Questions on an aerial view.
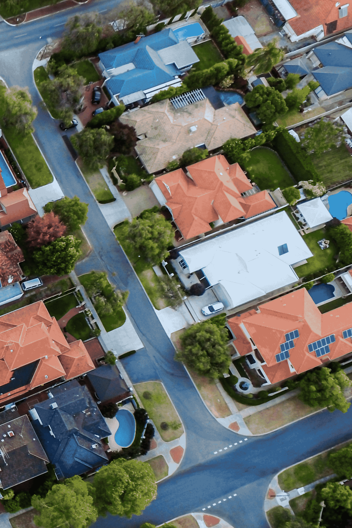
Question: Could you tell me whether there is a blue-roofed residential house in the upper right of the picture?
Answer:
Yes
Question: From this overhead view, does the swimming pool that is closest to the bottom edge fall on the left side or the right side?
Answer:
left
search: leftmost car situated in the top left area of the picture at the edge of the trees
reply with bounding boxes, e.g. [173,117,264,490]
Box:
[57,118,79,132]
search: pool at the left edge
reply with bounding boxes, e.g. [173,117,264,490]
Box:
[0,146,18,187]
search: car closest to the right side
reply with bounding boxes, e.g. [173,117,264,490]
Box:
[201,302,224,317]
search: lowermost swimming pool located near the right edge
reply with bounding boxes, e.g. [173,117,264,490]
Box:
[306,282,338,306]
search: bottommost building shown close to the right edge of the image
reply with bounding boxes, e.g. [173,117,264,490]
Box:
[225,285,352,386]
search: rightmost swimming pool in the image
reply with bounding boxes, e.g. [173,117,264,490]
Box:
[327,188,352,219]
